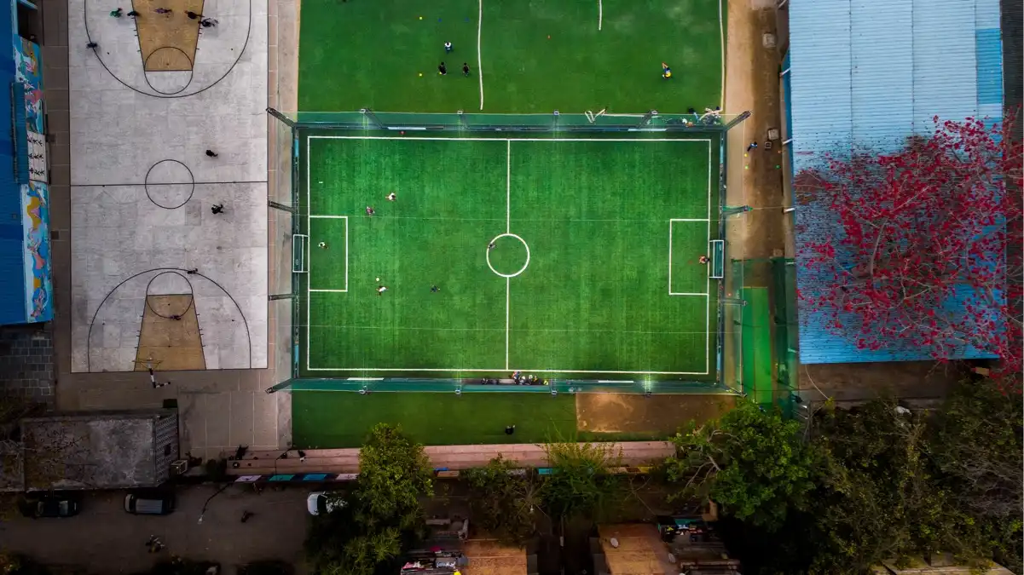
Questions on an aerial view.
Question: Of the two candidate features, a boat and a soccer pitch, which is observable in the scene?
soccer pitch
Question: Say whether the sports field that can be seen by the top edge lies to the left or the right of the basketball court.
to its right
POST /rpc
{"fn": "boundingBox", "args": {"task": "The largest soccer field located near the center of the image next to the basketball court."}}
[298,129,724,380]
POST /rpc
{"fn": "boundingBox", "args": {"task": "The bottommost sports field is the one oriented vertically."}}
[743,287,773,403]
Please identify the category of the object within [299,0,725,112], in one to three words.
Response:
sports field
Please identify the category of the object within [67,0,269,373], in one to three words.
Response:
basketball court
